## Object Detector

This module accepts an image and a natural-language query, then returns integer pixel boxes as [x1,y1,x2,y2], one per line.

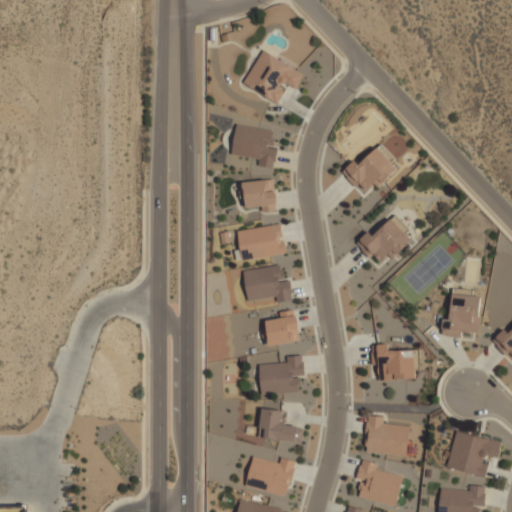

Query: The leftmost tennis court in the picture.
[391,233,466,304]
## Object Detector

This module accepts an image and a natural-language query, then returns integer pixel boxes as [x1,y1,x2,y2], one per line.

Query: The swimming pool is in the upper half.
[264,30,290,50]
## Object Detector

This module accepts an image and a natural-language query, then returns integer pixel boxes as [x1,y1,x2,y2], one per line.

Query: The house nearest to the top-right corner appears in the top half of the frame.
[344,144,400,194]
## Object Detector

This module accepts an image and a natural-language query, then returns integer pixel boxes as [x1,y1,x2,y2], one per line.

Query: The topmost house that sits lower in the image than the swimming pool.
[243,50,302,103]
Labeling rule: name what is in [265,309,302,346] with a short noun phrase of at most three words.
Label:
house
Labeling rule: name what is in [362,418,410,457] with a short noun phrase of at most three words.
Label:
house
